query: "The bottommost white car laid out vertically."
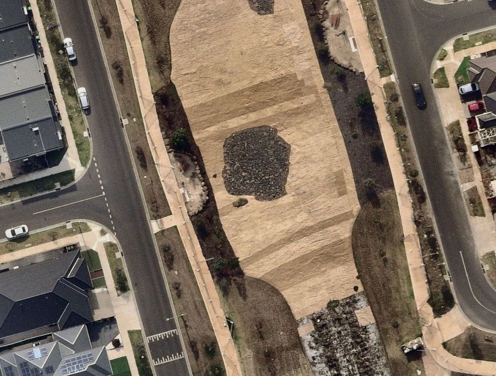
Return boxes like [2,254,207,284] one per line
[77,87,89,110]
